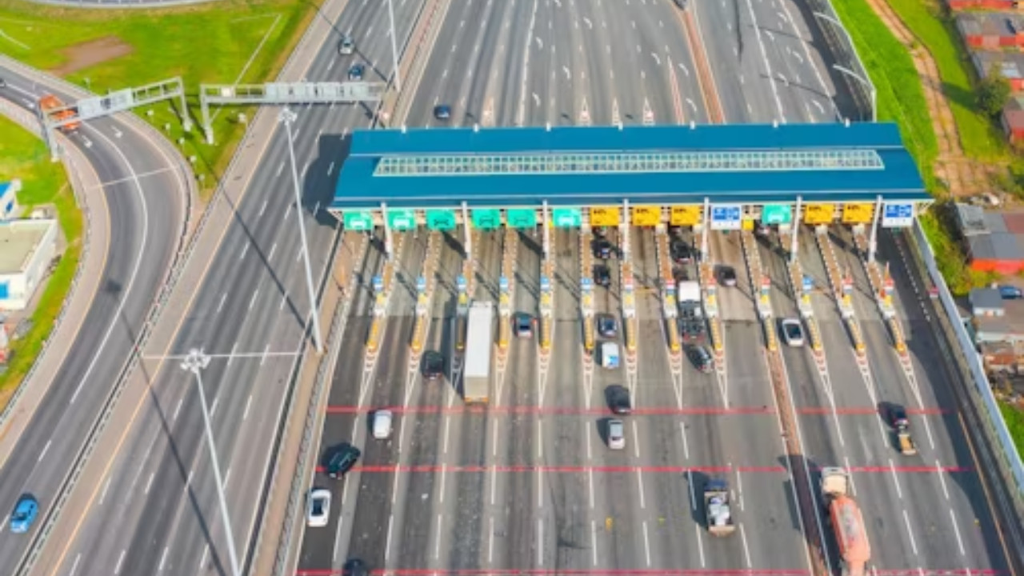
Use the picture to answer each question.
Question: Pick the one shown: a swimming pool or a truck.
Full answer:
The image shows a truck.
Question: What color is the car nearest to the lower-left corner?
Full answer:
The car nearest to the lower-left corner looks blue in the image.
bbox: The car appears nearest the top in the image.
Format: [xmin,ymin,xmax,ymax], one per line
[338,36,353,53]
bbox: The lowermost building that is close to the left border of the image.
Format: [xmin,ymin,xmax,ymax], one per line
[0,214,65,307]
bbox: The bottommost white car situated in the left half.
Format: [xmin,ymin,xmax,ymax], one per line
[307,491,331,528]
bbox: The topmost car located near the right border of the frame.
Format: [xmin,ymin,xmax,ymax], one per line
[1001,282,1024,303]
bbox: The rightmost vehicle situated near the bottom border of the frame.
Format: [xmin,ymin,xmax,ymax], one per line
[824,455,874,576]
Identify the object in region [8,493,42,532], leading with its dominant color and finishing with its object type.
blue car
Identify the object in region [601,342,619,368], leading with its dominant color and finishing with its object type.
white vehicle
